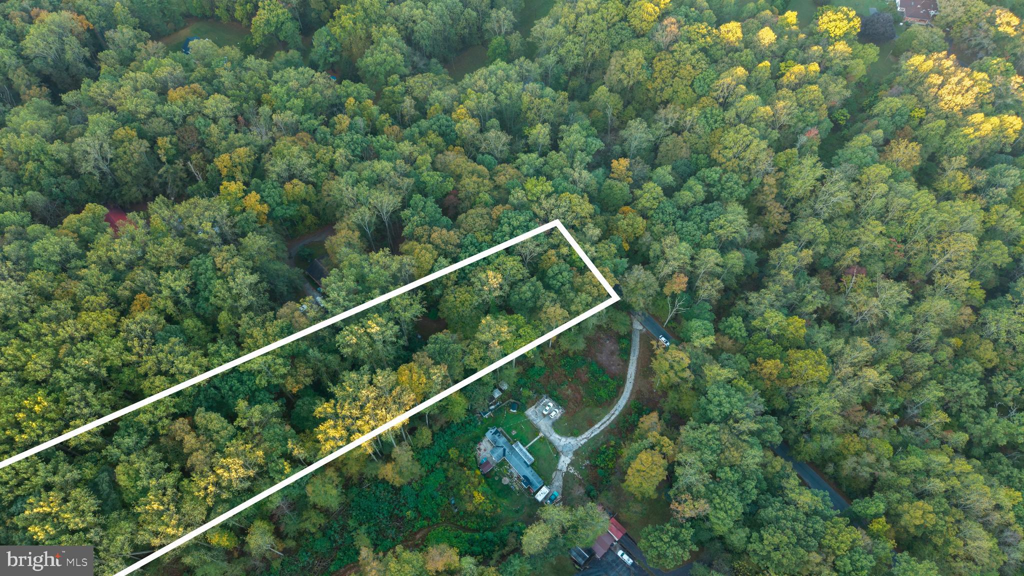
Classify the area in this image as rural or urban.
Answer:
rural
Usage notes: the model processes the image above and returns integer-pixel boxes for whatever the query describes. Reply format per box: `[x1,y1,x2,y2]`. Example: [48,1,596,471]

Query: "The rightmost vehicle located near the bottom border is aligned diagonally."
[617,549,634,567]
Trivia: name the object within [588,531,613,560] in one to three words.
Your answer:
house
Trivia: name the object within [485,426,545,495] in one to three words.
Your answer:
house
